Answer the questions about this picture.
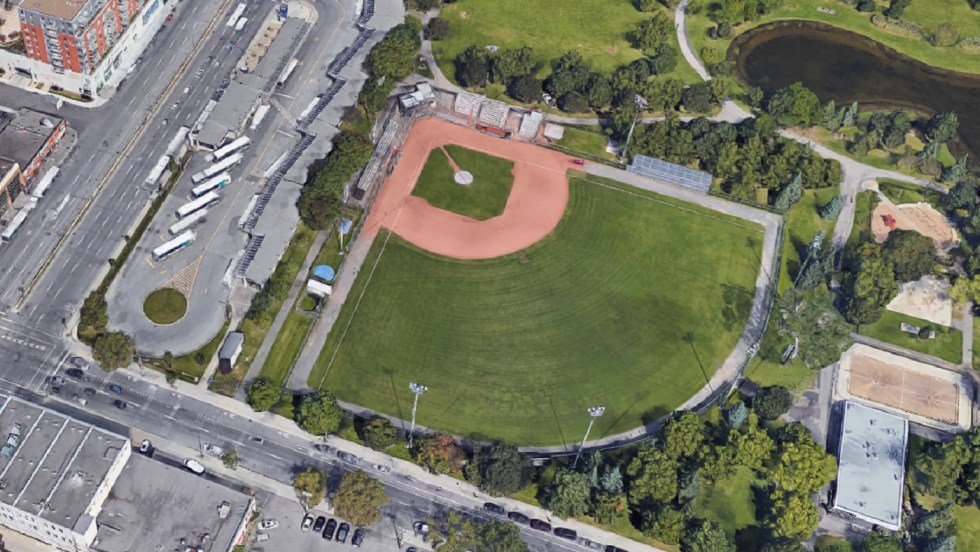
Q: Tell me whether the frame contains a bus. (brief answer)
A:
Yes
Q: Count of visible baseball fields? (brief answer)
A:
1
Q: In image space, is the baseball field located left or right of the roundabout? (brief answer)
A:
to its right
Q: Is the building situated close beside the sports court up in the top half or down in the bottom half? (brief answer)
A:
bottom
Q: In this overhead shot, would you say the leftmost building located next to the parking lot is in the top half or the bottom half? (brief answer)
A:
bottom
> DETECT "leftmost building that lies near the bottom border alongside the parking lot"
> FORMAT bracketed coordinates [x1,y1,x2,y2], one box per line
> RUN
[0,396,132,548]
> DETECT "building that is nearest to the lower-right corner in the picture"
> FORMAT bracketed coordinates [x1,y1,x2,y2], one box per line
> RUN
[827,401,907,540]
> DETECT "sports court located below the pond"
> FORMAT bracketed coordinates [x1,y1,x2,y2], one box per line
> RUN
[836,344,972,430]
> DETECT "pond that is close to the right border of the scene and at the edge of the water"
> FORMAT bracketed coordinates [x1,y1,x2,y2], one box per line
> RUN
[726,20,980,183]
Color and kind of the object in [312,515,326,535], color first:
black car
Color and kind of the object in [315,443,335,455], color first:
gray vehicle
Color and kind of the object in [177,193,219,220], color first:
white bus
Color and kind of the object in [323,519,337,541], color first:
black car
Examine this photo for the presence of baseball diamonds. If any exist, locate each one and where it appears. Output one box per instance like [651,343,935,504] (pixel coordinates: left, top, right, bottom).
[285,118,783,453]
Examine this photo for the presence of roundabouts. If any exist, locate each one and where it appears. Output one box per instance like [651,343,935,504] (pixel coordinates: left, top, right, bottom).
[144,289,188,325]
